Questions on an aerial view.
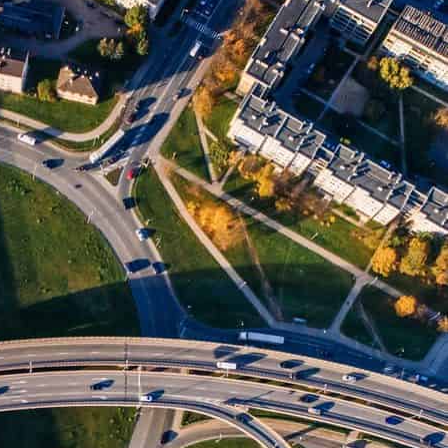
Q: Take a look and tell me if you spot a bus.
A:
Yes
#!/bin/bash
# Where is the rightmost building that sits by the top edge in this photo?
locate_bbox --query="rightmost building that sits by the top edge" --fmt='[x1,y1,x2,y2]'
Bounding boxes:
[366,6,448,82]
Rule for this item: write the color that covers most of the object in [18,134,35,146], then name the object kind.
white vehicle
